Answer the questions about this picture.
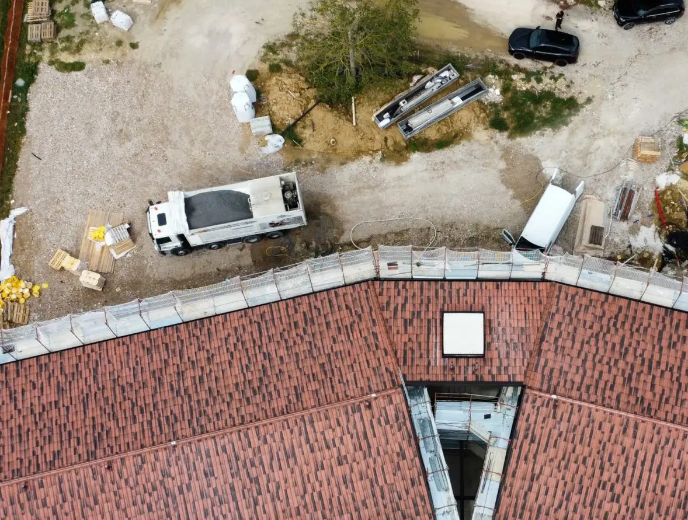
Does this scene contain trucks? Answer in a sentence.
Yes, there is a truck in the image.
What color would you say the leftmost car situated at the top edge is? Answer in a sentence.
In this view, the leftmost car situated at the top edge is black.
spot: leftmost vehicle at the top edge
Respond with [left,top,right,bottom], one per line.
[506,24,582,67]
